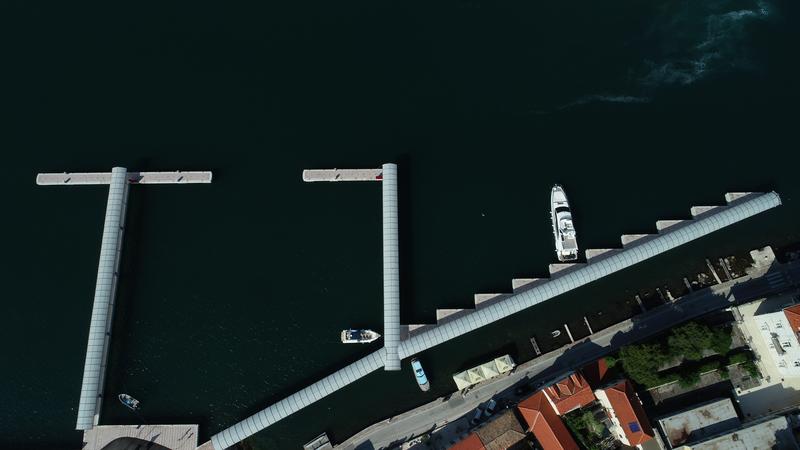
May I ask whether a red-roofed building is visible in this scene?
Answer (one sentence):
Yes, you can see a red-roofed building in this photo.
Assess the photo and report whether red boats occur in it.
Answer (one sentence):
No, the scene contains no red boat.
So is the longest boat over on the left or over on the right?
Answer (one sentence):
It is on the right.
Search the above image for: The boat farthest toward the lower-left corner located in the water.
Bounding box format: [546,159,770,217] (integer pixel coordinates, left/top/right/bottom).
[118,395,139,410]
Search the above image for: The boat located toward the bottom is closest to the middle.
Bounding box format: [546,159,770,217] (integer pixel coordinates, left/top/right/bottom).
[341,328,380,344]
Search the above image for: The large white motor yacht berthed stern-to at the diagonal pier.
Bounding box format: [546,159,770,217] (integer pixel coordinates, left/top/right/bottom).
[548,181,584,269]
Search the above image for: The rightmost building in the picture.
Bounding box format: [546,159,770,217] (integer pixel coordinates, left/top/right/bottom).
[755,303,800,382]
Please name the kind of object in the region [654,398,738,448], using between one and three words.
building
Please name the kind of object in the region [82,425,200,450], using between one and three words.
pier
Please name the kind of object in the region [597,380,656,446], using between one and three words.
house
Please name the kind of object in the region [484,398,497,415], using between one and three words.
vehicle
